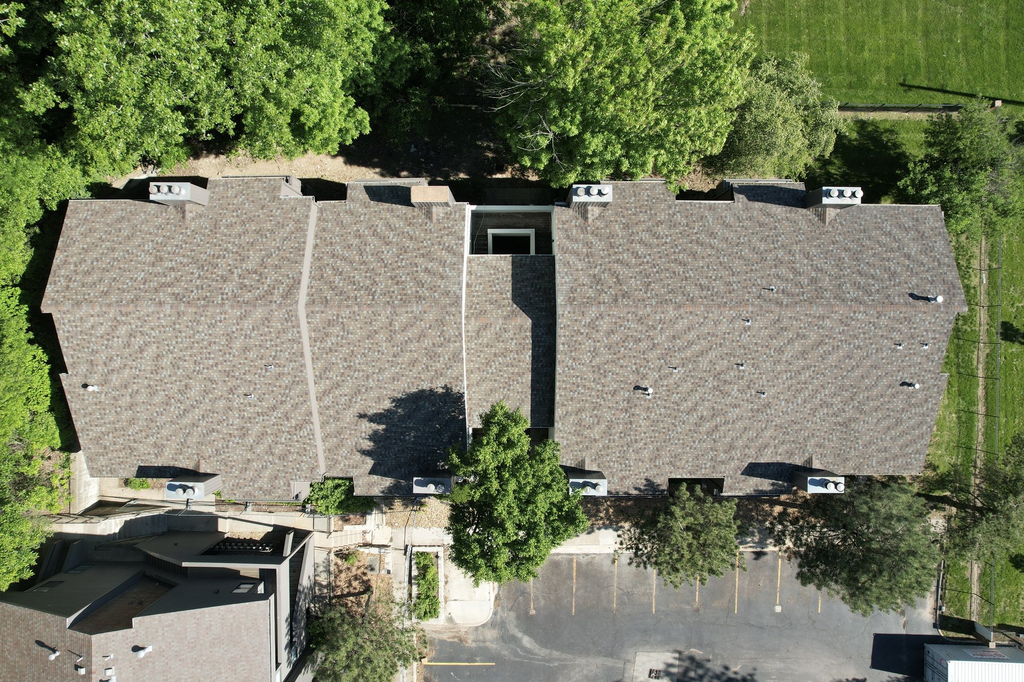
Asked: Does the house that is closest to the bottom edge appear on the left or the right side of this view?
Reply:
left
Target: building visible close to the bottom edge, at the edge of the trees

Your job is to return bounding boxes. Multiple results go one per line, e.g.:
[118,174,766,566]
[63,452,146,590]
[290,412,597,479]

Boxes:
[0,532,342,682]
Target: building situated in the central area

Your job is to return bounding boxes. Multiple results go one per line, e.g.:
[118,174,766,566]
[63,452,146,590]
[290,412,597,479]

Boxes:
[42,176,967,501]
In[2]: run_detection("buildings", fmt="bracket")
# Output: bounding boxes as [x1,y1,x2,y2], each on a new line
[42,176,967,501]
[0,532,342,682]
